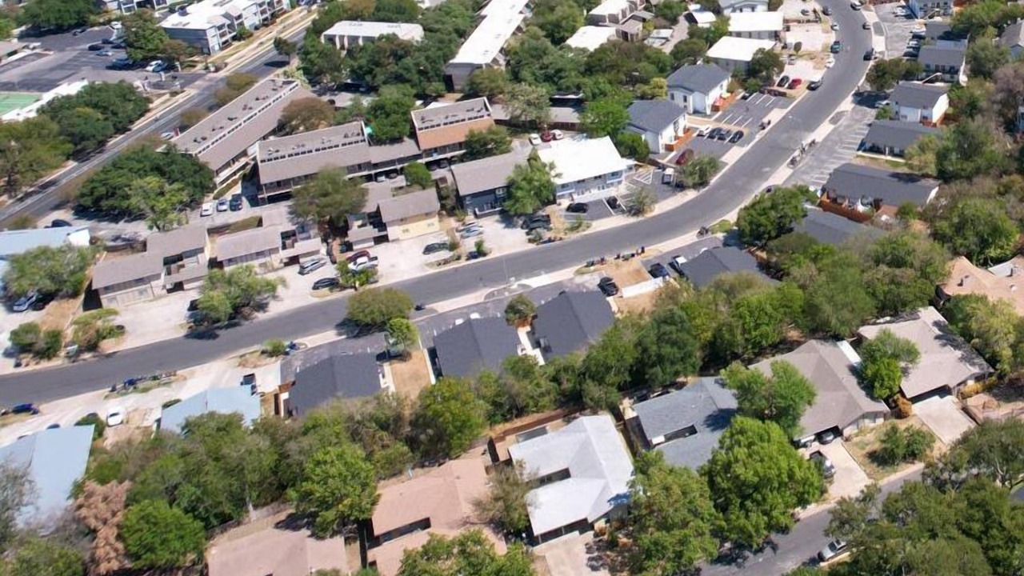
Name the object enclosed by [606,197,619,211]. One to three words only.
vehicle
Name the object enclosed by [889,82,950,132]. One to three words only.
house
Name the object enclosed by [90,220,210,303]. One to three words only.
house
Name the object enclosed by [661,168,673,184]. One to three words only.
vehicle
